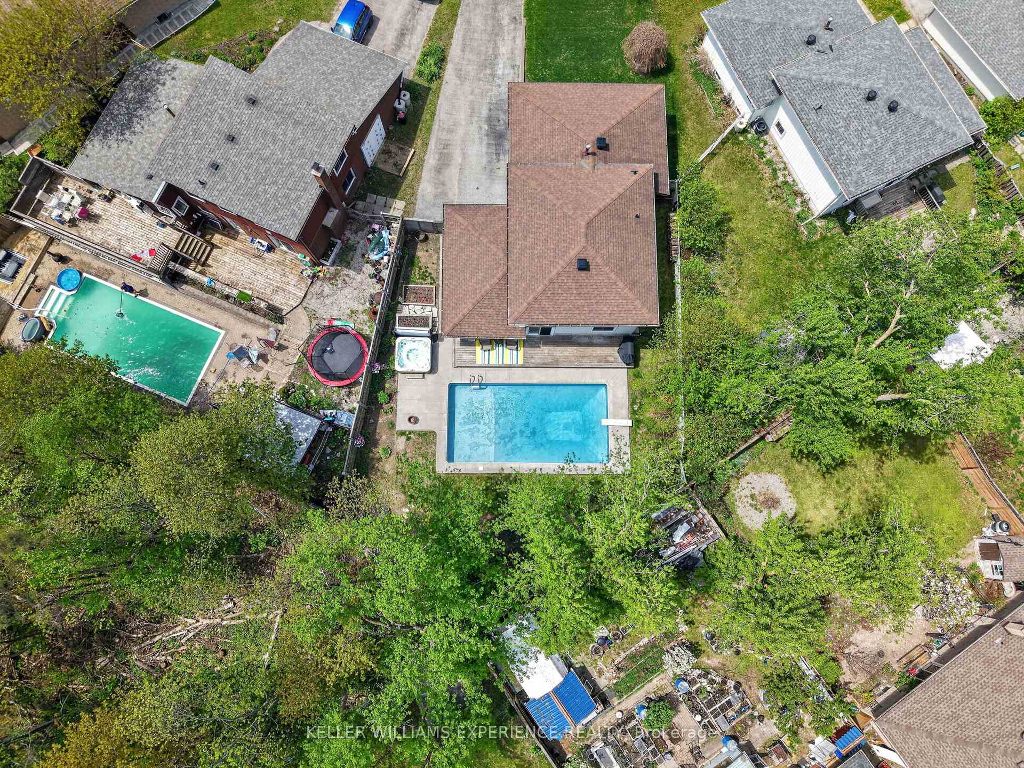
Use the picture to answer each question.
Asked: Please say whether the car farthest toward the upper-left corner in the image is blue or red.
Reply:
blue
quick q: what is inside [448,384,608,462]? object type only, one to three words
swimming pool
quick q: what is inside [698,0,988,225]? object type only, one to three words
house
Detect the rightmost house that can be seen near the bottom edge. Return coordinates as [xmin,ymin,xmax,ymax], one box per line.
[864,583,1024,768]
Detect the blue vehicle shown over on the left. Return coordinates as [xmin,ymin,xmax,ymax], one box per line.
[335,0,380,44]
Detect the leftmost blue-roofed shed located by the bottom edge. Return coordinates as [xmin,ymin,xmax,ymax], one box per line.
[524,662,599,742]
